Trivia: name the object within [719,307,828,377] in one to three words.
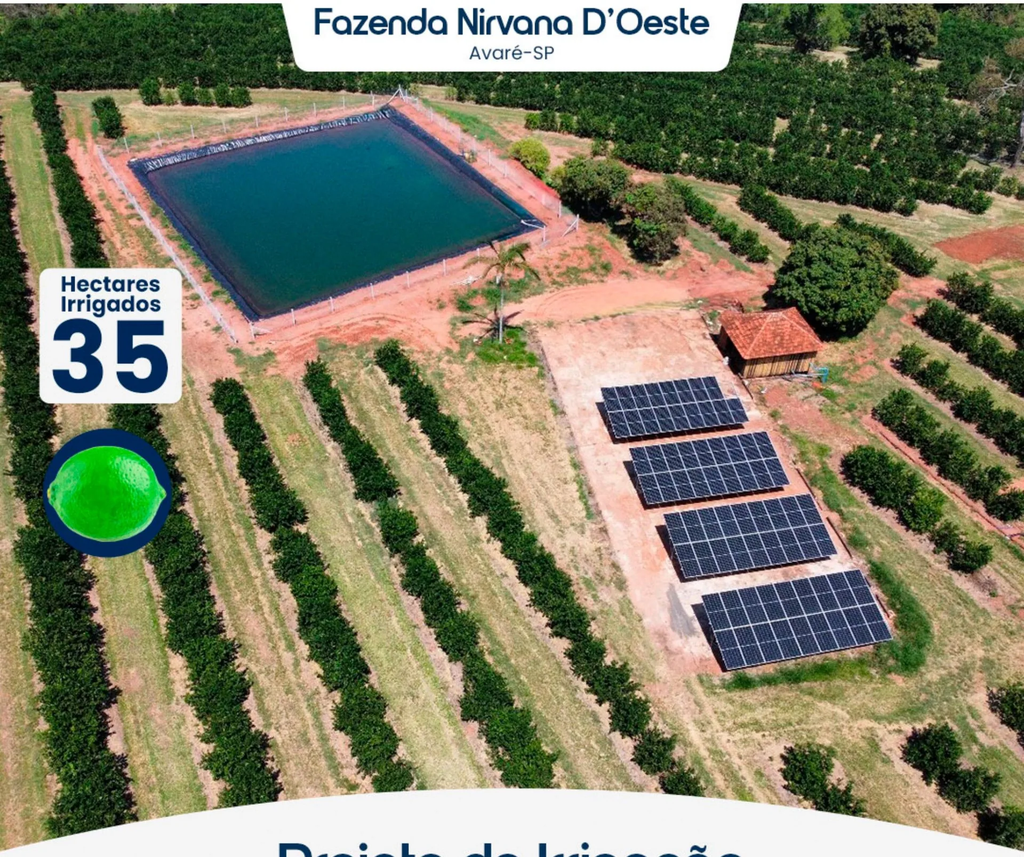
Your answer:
shed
